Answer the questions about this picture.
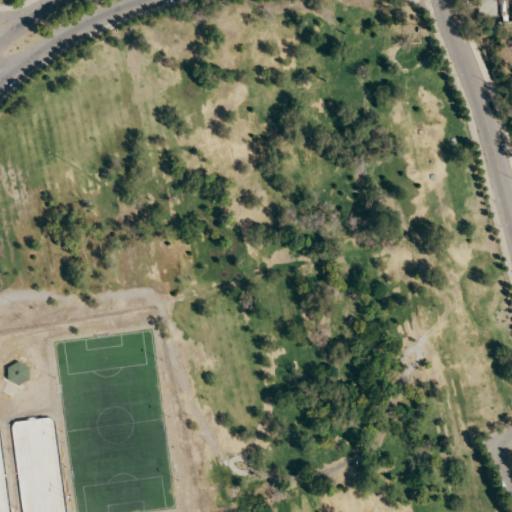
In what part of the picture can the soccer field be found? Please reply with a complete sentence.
The soccer field is in the bottom left part of the image.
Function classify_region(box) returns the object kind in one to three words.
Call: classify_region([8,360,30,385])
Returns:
building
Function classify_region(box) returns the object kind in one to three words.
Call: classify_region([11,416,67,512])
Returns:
building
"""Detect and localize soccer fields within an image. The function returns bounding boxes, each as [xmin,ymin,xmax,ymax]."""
[54,330,176,512]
